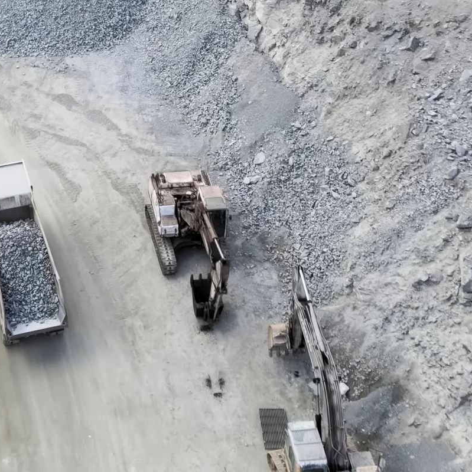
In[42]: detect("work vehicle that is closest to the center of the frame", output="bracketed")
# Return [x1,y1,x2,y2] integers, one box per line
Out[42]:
[141,174,235,319]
